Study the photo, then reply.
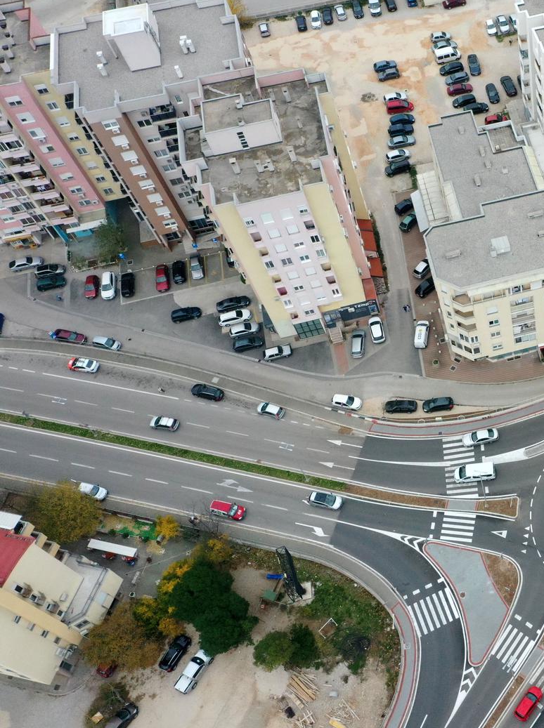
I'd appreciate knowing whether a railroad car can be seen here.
No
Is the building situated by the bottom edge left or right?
left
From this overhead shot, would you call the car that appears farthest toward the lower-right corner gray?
No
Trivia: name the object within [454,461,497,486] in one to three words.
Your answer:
vehicle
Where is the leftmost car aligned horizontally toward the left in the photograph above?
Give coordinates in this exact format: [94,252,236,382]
[8,253,44,273]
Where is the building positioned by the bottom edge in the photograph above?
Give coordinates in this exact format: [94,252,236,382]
[0,510,120,701]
